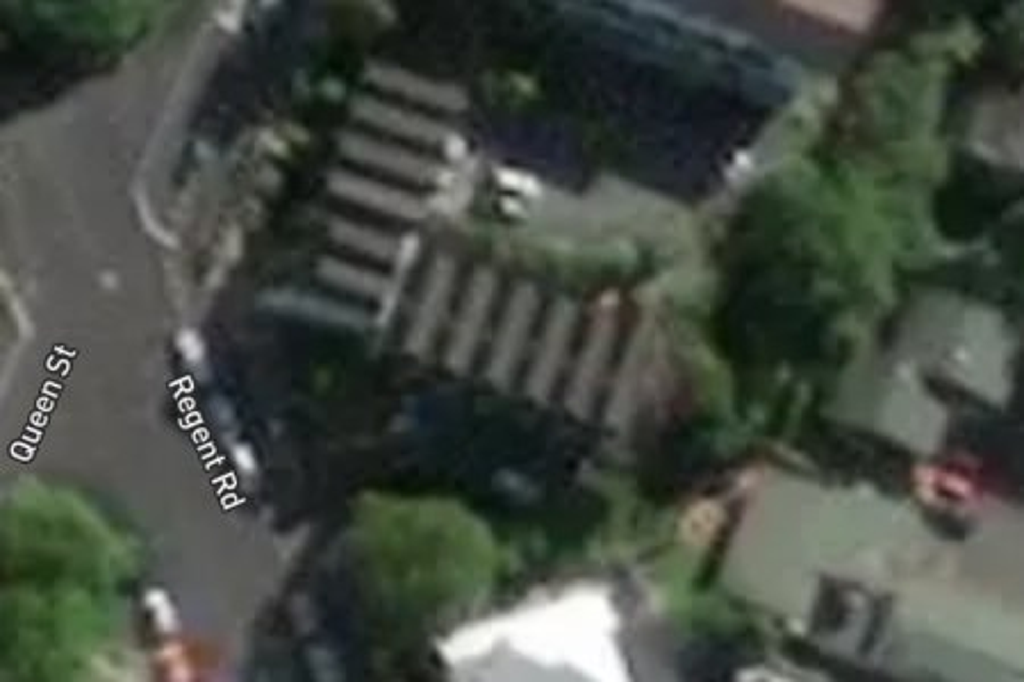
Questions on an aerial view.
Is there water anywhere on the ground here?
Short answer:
No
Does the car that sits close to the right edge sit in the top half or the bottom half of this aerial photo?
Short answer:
bottom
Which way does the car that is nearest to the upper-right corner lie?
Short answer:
on a diagonal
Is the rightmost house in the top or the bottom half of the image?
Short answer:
top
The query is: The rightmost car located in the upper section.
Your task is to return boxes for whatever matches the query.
[717,142,756,185]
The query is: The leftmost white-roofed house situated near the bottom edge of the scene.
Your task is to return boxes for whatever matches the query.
[439,580,640,682]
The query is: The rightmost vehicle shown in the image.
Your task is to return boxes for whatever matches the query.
[922,462,984,509]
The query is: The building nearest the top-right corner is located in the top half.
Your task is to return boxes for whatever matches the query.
[966,87,1024,178]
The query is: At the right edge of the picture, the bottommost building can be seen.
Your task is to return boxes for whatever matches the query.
[721,472,1024,682]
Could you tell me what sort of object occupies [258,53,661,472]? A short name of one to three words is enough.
building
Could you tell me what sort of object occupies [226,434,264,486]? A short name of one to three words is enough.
car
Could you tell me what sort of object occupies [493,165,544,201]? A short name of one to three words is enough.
car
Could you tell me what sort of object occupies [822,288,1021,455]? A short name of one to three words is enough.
house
